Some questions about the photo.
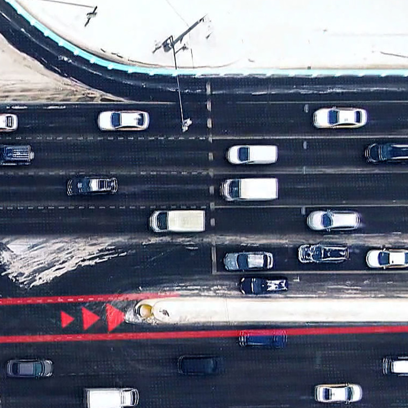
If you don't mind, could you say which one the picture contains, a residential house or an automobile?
automobile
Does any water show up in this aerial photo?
No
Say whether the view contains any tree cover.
No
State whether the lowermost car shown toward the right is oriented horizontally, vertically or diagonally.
horizontally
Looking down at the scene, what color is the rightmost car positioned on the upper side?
black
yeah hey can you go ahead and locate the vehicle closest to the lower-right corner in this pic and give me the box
[380,356,408,377]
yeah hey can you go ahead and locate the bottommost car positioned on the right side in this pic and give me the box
[313,383,362,405]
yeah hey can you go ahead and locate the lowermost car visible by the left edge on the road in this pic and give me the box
[6,357,54,380]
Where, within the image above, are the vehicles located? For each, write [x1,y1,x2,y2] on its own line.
[224,143,281,165]
[361,142,408,164]
[82,386,138,408]
[222,250,274,272]
[313,383,362,405]
[295,242,350,265]
[66,175,117,198]
[0,114,17,133]
[148,209,209,233]
[6,357,54,380]
[0,143,35,166]
[96,110,149,131]
[312,107,367,128]
[364,248,408,269]
[380,356,408,377]
[218,177,281,202]
[237,275,289,296]
[236,328,287,350]
[304,209,362,231]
